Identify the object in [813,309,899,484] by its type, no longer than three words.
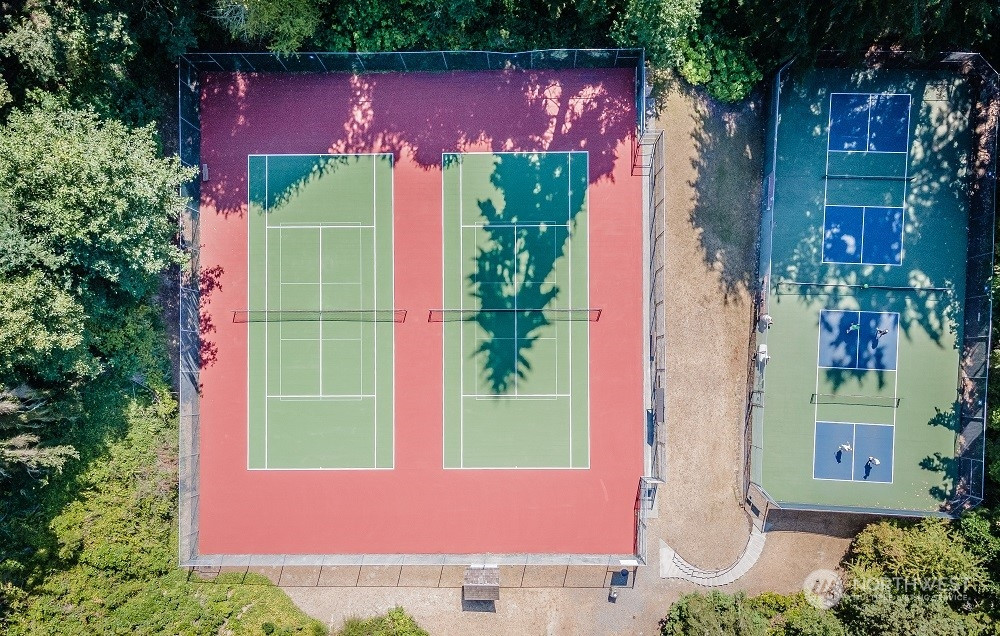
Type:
sports court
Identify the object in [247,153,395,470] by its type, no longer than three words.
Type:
tennis court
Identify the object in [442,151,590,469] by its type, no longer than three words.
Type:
tennis court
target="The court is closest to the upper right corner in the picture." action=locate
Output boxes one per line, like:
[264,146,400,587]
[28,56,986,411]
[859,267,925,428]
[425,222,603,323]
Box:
[822,93,911,266]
